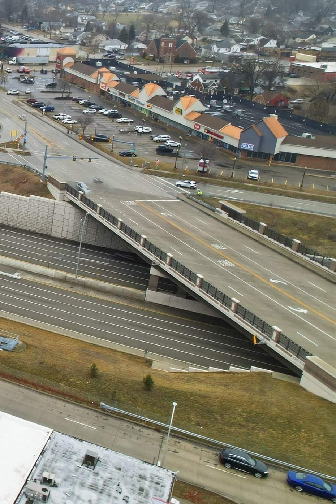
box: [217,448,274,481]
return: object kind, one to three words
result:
car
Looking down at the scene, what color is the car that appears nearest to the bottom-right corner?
blue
